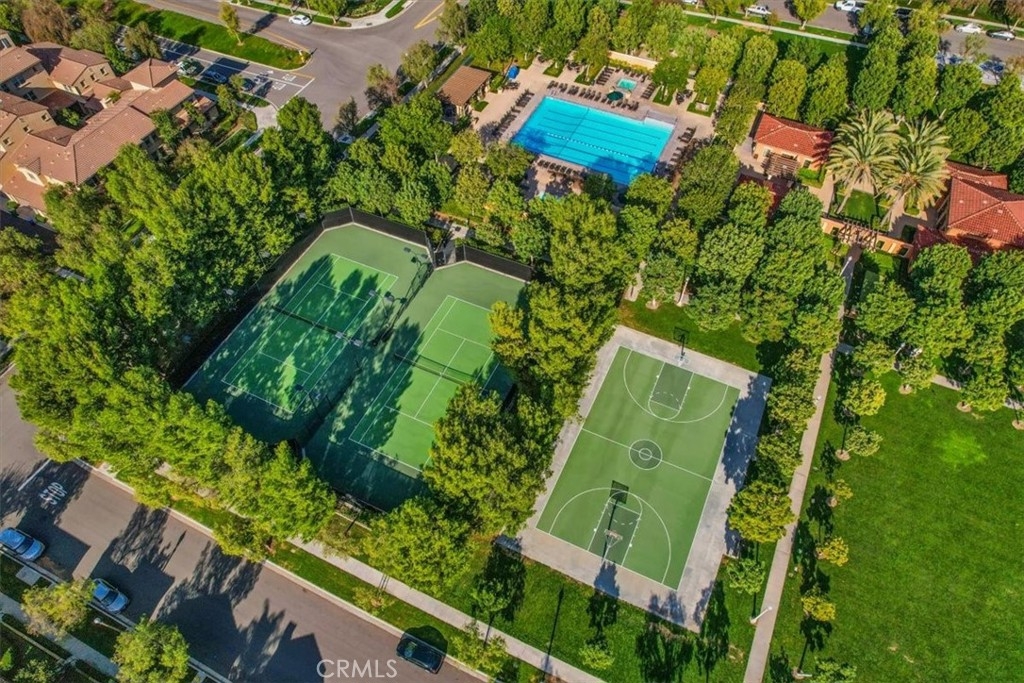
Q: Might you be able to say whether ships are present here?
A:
No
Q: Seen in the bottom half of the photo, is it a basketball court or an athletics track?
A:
basketball court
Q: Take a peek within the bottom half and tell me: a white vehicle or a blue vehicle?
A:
blue vehicle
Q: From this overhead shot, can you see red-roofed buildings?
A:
Yes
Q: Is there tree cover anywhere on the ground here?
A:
Yes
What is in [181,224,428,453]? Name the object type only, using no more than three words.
tennis court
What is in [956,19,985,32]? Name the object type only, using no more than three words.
vehicle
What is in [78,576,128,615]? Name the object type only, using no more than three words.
car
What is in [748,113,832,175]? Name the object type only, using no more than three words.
building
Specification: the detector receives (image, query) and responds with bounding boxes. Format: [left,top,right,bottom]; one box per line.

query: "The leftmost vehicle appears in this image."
[0,525,38,560]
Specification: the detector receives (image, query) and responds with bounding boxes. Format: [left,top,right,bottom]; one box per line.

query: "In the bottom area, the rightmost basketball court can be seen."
[510,325,772,639]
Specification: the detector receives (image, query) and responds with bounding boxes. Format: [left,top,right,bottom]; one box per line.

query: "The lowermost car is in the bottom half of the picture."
[390,635,443,678]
